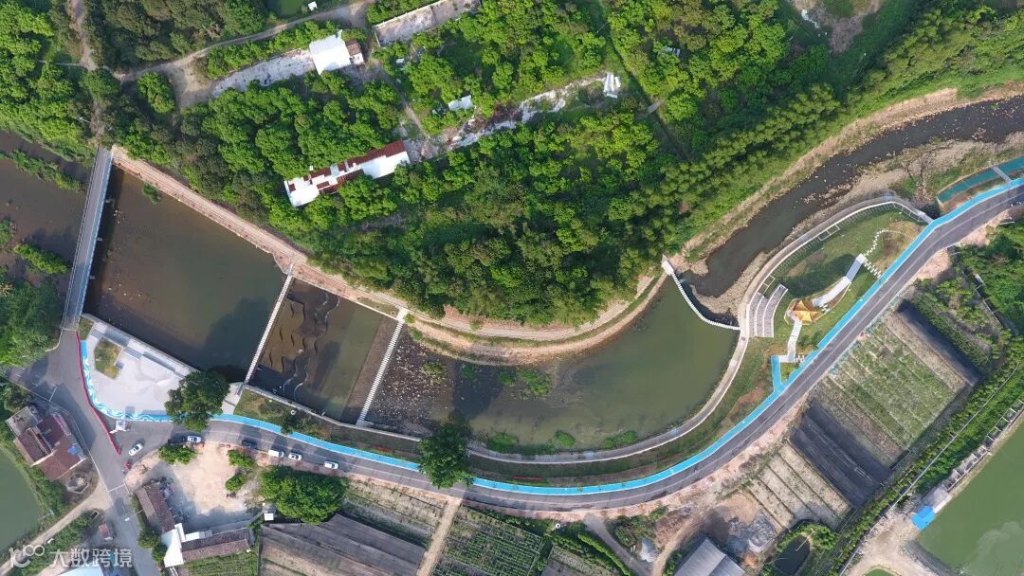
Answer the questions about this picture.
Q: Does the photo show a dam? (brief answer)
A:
Yes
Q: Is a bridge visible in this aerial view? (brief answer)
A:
Yes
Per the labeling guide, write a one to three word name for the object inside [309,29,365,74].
building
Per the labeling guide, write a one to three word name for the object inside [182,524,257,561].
barn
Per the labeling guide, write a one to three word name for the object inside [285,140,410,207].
shed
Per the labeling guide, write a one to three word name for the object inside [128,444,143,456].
vehicle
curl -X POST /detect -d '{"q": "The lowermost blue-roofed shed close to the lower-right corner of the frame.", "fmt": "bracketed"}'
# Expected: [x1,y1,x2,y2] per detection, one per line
[905,502,936,531]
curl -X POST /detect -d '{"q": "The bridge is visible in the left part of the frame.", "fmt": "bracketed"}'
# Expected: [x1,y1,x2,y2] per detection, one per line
[59,141,114,330]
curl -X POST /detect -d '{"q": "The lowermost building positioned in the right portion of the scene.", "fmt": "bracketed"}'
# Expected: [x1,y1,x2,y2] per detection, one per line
[670,536,746,576]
